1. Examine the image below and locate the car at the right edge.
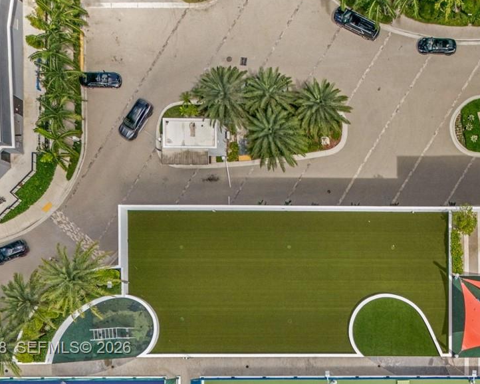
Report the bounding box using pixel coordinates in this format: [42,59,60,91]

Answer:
[417,34,457,57]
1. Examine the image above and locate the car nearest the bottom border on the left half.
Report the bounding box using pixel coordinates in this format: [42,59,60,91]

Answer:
[0,240,30,265]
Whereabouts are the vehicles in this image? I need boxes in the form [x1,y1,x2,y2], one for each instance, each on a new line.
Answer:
[0,240,30,265]
[334,6,380,40]
[417,34,457,57]
[79,68,122,90]
[121,95,153,140]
